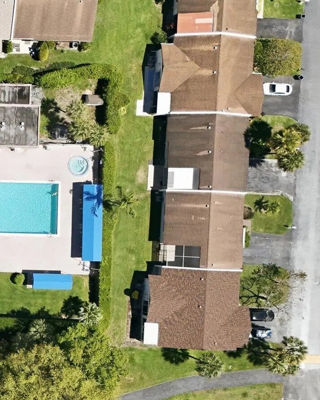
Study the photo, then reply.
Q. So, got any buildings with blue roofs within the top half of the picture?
No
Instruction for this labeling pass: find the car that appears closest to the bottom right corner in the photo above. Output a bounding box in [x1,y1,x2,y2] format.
[249,325,273,339]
